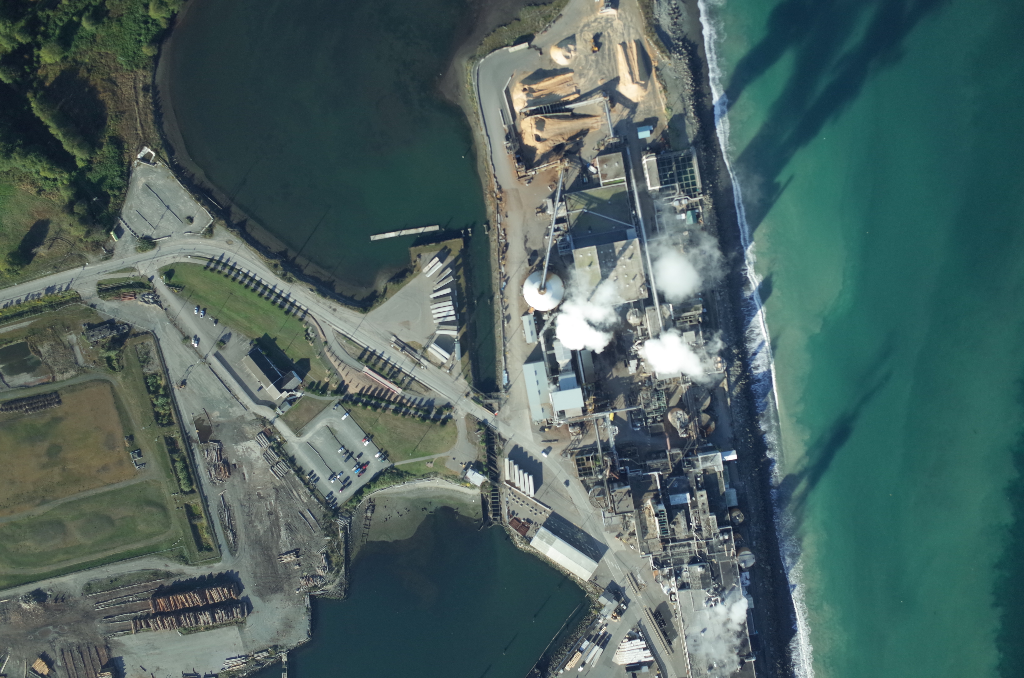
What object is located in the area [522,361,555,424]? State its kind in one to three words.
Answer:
shed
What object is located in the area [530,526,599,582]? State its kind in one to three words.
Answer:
building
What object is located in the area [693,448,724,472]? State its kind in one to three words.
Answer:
building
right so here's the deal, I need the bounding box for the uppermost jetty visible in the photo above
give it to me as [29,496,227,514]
[369,225,444,243]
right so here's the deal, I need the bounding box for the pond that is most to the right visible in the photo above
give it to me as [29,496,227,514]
[172,0,503,390]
